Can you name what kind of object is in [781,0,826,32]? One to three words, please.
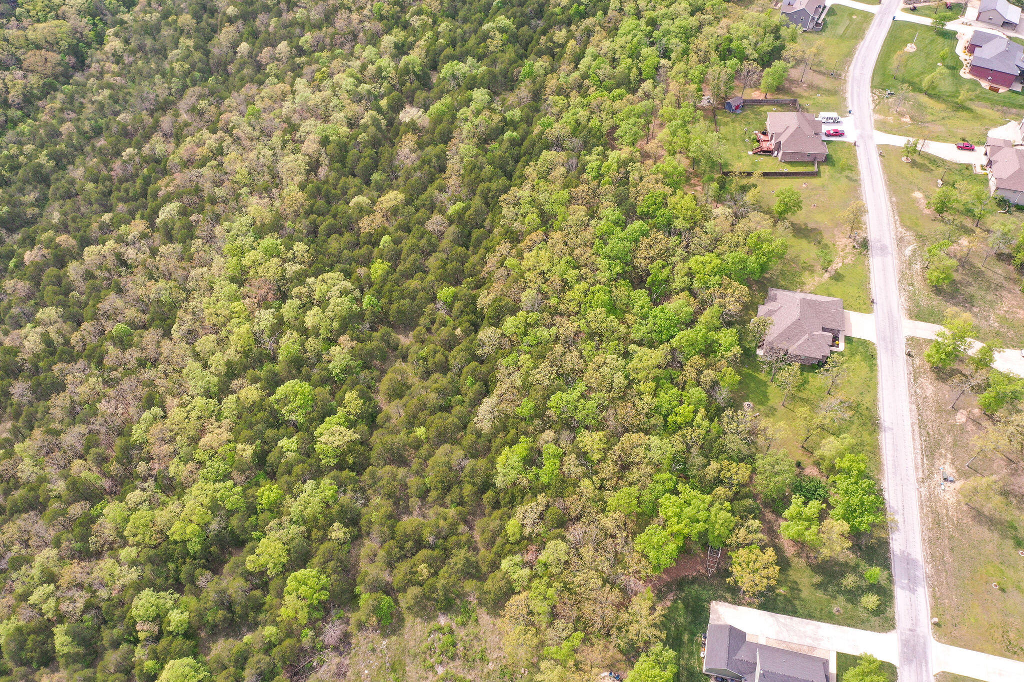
house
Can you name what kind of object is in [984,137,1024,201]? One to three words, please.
house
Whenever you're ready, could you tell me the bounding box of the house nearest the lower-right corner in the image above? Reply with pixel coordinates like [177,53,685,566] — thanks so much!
[700,624,830,682]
